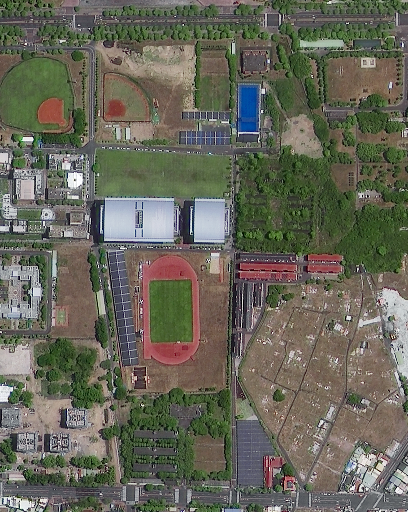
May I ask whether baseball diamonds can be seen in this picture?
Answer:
Yes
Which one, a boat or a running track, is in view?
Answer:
running track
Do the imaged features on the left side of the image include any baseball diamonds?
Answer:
Yes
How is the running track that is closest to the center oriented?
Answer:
up and down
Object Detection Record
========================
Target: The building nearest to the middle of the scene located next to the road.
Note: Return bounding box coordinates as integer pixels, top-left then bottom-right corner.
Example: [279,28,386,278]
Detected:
[190,199,230,243]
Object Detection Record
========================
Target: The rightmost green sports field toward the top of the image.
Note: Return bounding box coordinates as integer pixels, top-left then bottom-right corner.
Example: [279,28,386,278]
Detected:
[96,150,231,198]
